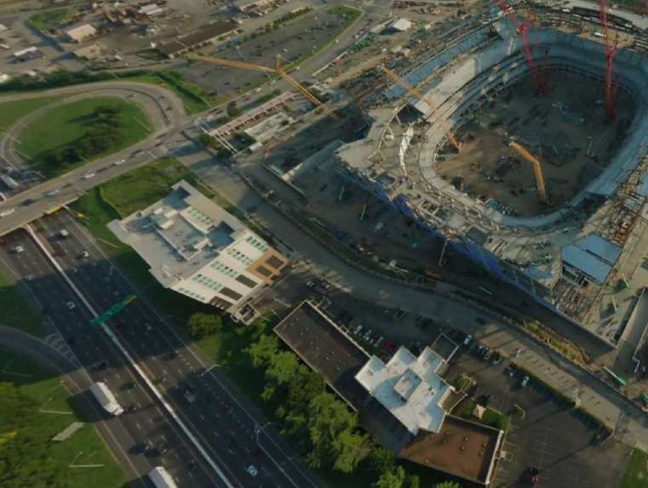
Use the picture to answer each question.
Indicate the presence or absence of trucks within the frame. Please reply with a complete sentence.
Yes, I can see a truck in this picture.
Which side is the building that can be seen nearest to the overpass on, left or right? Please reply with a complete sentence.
The building that can be seen nearest to the overpass sits on the left side.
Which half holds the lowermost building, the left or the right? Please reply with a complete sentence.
The lowermost building appears in the right half of the scene.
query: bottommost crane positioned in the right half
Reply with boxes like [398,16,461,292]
[509,142,550,207]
